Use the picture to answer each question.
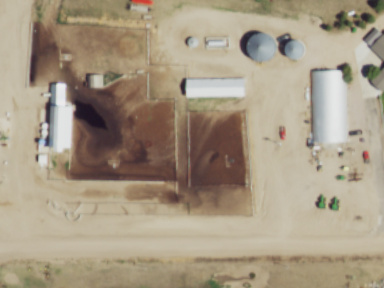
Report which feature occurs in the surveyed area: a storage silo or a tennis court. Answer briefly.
storage silo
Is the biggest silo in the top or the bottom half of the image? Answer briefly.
top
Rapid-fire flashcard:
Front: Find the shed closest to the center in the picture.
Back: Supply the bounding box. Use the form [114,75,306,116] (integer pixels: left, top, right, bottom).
[186,78,246,98]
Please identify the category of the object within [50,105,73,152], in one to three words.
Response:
barn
